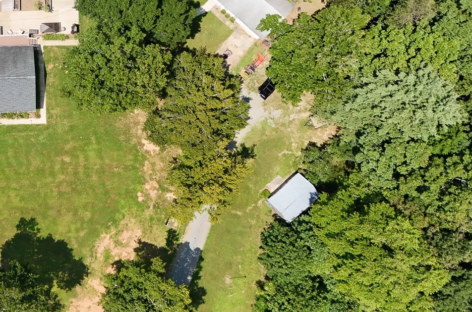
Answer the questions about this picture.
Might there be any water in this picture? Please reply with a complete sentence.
No, there is no water in the image.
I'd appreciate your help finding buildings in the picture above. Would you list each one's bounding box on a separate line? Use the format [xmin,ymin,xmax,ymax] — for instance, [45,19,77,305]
[205,0,297,40]
[262,171,319,224]
[0,42,36,112]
